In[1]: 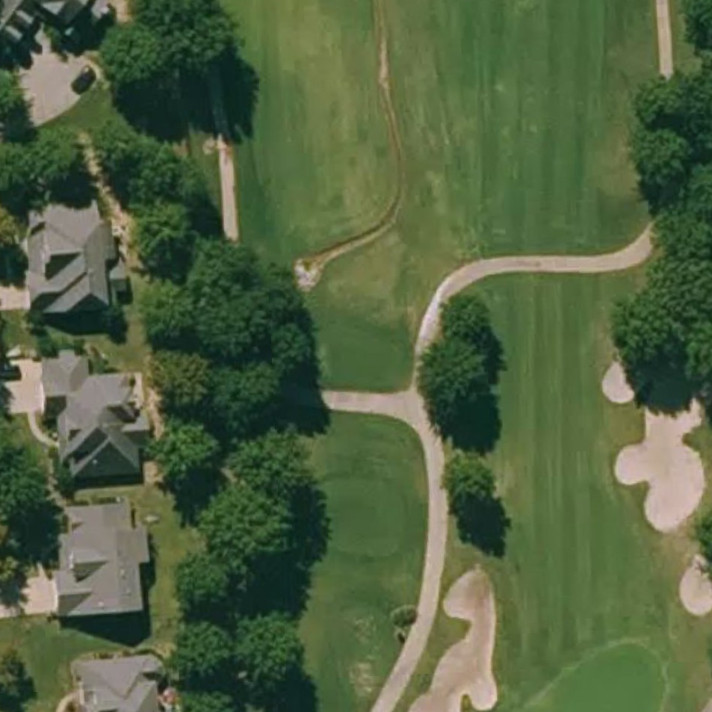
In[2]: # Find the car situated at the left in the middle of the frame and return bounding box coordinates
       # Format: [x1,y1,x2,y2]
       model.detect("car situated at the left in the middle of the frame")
[0,365,23,378]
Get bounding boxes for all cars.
[70,67,96,95]
[0,365,23,378]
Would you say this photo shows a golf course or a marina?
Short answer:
golf course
